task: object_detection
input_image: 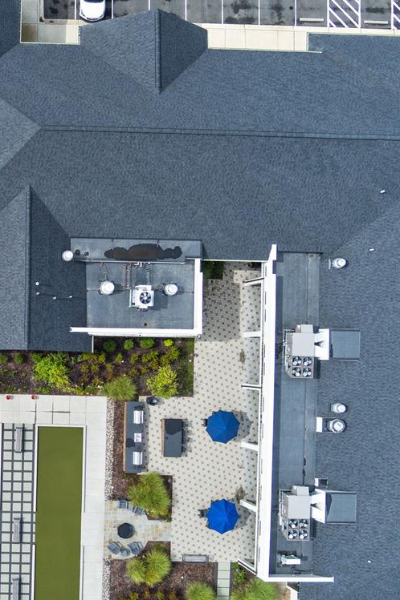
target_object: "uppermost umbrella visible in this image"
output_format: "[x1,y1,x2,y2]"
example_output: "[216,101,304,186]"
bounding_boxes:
[203,409,238,442]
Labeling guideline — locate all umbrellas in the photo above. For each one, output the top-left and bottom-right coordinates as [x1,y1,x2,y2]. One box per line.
[203,498,237,532]
[203,409,238,442]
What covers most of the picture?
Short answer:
buildings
